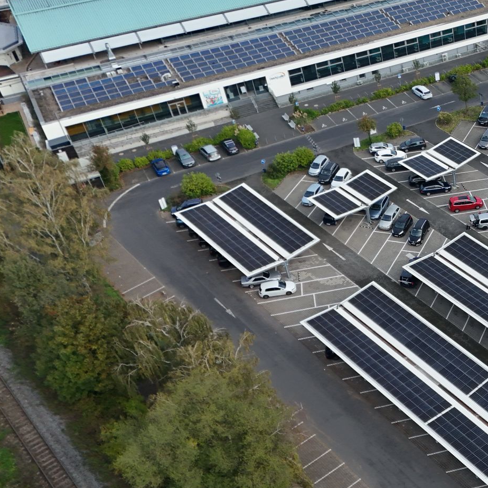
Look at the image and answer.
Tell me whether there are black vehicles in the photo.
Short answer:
Yes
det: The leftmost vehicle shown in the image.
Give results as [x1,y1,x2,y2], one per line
[151,158,171,177]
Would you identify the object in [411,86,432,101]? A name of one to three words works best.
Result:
car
